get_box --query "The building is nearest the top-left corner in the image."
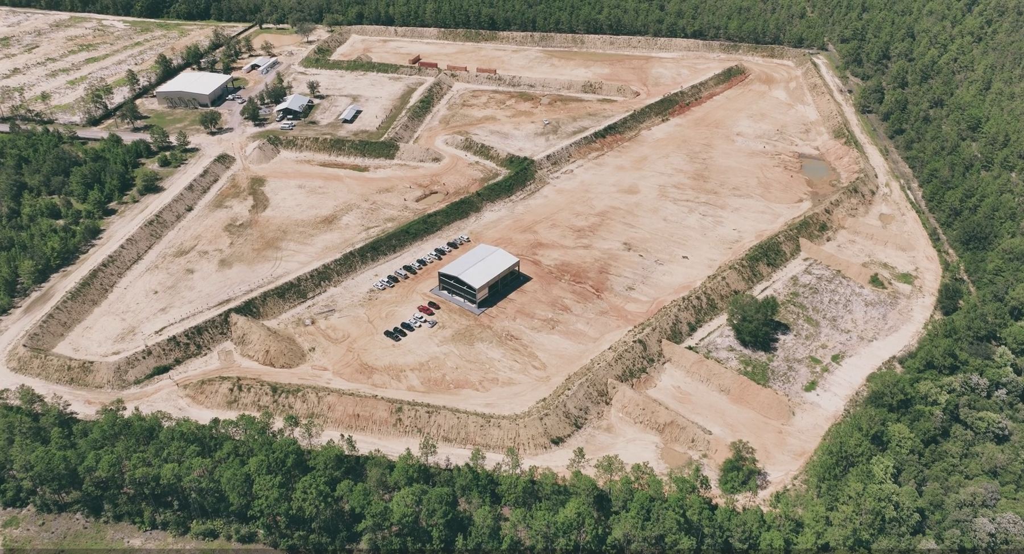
[151,70,248,107]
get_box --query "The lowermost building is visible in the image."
[427,244,532,318]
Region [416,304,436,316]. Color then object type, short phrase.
red vehicle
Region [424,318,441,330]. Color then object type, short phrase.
gray vehicle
